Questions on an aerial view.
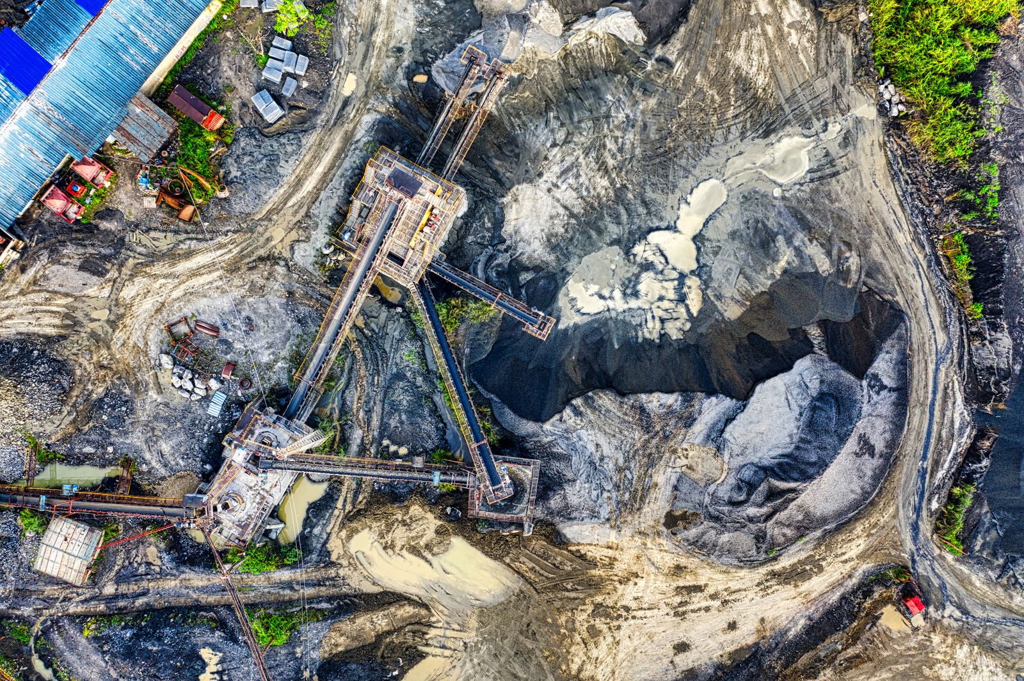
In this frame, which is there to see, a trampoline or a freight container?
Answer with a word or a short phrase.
freight container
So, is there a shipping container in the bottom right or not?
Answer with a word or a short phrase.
No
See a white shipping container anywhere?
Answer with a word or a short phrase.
No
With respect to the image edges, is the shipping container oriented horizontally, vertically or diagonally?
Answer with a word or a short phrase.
diagonally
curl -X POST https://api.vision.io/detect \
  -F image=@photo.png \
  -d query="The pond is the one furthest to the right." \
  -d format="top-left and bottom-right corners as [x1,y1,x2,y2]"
[278,475,329,547]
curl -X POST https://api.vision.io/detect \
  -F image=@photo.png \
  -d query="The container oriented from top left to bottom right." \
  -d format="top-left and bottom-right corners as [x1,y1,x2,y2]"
[167,84,231,135]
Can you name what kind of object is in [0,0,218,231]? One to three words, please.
warehouse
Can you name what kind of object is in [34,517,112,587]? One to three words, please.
house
